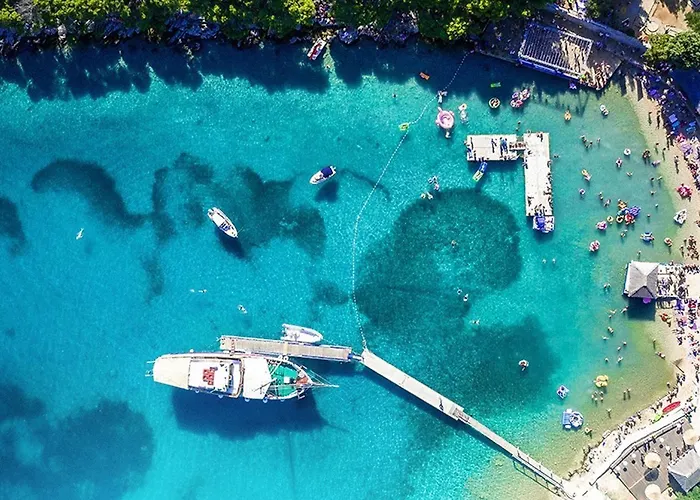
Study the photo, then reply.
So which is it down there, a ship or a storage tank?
ship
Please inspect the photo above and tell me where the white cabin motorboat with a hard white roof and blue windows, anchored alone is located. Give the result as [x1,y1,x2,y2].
[206,207,245,237]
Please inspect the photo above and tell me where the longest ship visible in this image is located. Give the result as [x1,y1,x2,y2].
[146,350,338,404]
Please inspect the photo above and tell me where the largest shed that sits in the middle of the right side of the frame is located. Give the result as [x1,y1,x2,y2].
[624,261,659,299]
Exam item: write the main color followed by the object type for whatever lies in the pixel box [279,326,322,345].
white boat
